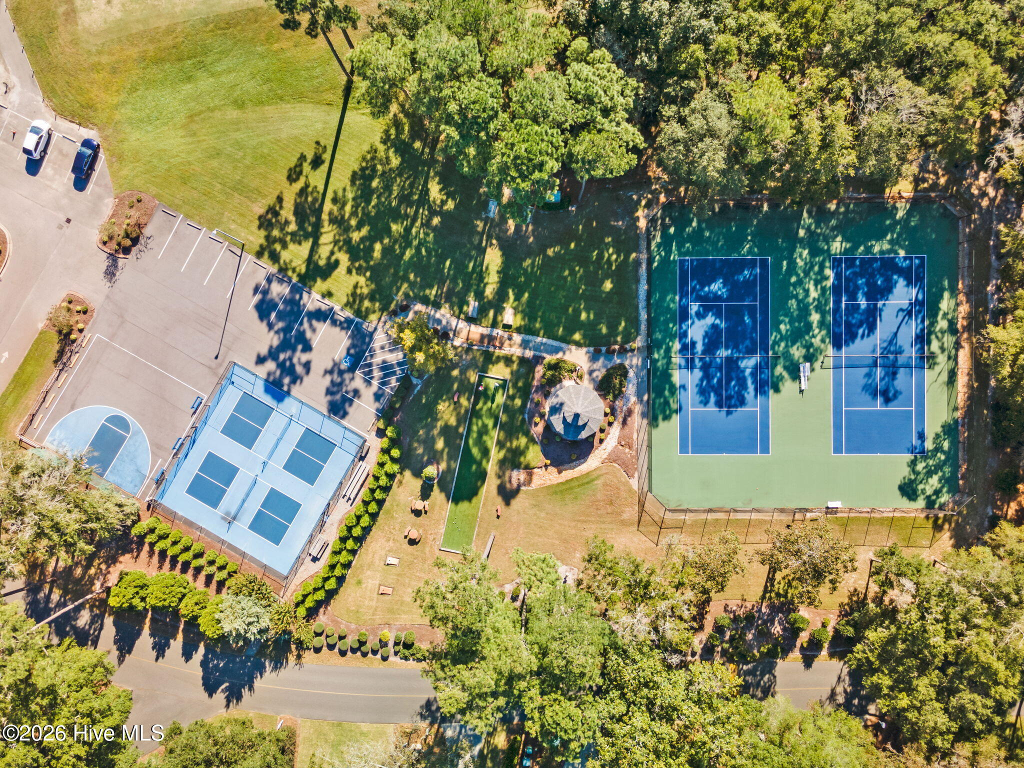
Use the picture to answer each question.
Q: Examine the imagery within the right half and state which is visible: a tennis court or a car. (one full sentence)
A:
The one visible within the right half is a tennis court.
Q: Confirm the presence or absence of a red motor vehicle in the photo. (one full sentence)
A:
No, I find no red motor vehicle anywhere in the image.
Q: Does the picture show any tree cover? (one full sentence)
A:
Yes, there's tree cover in this view.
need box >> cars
[68,142,99,181]
[20,118,52,158]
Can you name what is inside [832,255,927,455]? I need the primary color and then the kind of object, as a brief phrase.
blue tennis court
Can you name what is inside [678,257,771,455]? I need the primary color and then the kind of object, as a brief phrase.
blue tennis court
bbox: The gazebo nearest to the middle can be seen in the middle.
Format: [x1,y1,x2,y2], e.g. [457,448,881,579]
[548,384,604,441]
